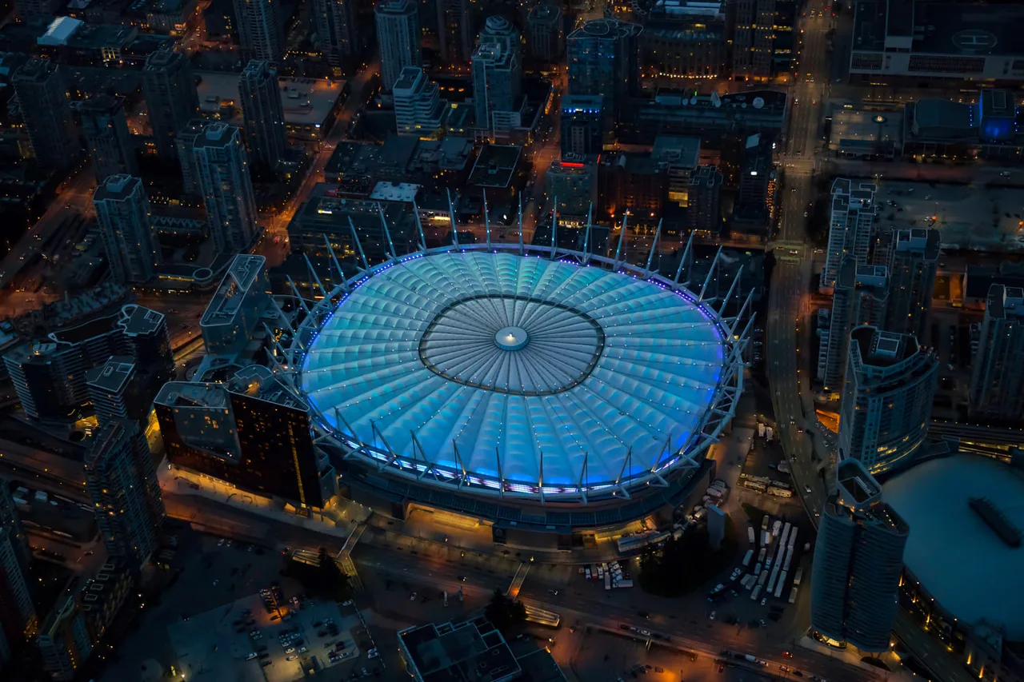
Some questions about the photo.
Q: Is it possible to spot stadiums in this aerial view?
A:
Yes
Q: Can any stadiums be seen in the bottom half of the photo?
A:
Yes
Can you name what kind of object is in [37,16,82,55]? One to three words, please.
building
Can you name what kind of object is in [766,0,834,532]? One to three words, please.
bridge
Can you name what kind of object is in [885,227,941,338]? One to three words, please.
building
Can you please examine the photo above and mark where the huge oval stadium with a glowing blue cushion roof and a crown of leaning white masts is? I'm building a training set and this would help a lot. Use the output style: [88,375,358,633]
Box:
[267,190,758,547]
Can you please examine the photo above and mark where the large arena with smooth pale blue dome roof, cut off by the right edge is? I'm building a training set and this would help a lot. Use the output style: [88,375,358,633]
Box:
[880,455,1024,682]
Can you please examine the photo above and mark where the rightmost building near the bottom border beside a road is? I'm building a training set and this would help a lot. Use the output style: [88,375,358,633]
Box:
[806,457,910,653]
